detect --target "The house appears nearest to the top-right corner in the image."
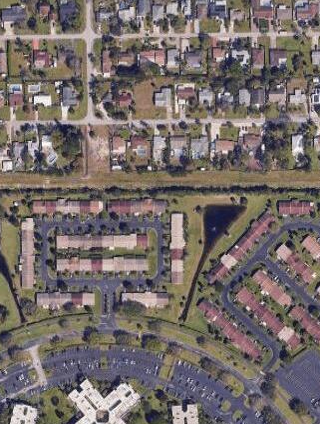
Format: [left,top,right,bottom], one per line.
[295,1,319,18]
